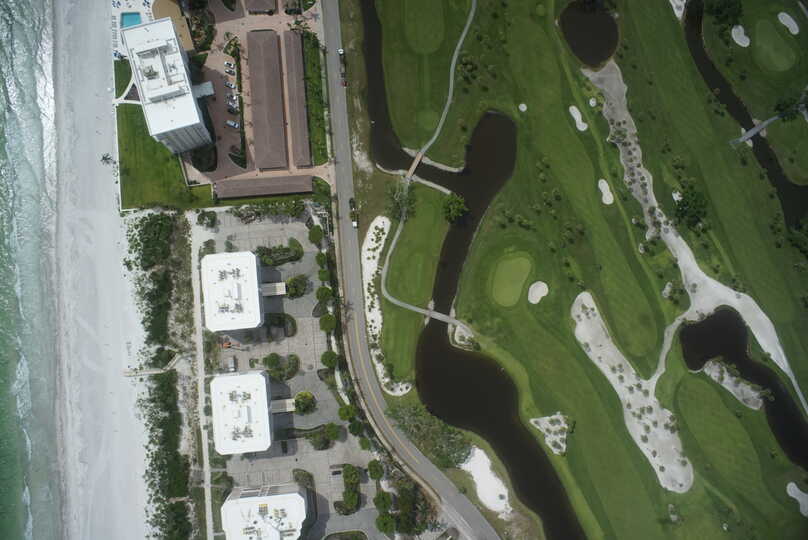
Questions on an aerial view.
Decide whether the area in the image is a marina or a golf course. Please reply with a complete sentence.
This image shows a golf course.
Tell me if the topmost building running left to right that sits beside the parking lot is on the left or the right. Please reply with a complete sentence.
You can find the topmost building running left to right that sits beside the parking lot on the left side of the picture.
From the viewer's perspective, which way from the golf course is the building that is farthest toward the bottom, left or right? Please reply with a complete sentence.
The building that is farthest toward the bottom appears to the left of the golf course in this view.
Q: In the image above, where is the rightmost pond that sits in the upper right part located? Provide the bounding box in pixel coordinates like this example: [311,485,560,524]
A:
[685,0,808,239]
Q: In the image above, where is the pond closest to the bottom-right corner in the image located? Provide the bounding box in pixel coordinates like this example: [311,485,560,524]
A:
[681,306,808,473]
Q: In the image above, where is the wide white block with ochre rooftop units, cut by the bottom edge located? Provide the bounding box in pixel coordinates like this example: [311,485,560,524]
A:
[221,484,306,540]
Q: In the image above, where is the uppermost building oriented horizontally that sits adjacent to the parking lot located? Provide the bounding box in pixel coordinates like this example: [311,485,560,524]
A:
[215,176,312,198]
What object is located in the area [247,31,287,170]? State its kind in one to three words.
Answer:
building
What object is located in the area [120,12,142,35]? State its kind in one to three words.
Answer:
swimming pool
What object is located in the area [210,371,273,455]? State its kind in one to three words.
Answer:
building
